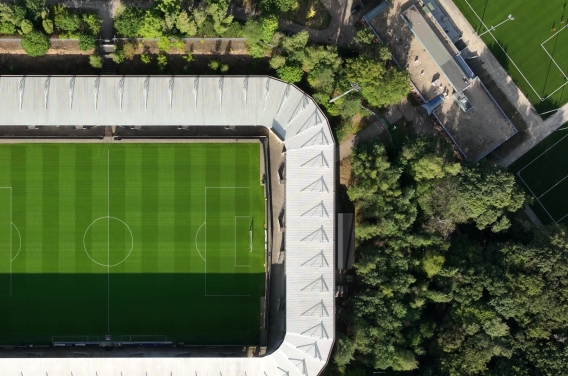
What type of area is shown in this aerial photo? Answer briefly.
sports ground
